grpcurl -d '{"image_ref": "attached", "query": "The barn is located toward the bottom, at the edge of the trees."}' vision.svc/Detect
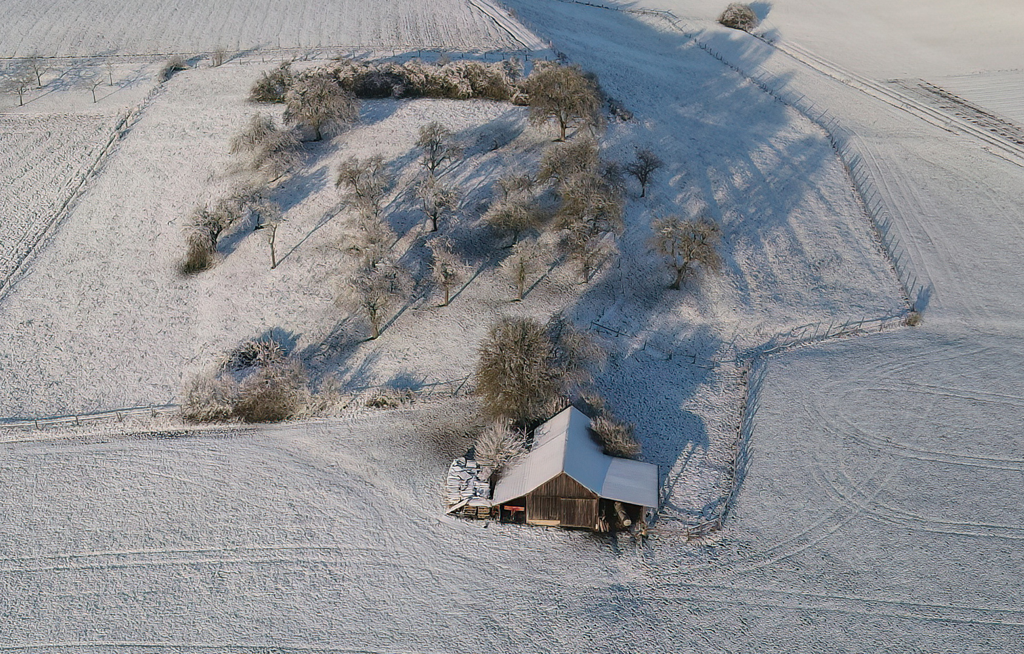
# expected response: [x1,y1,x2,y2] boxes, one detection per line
[492,402,663,533]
